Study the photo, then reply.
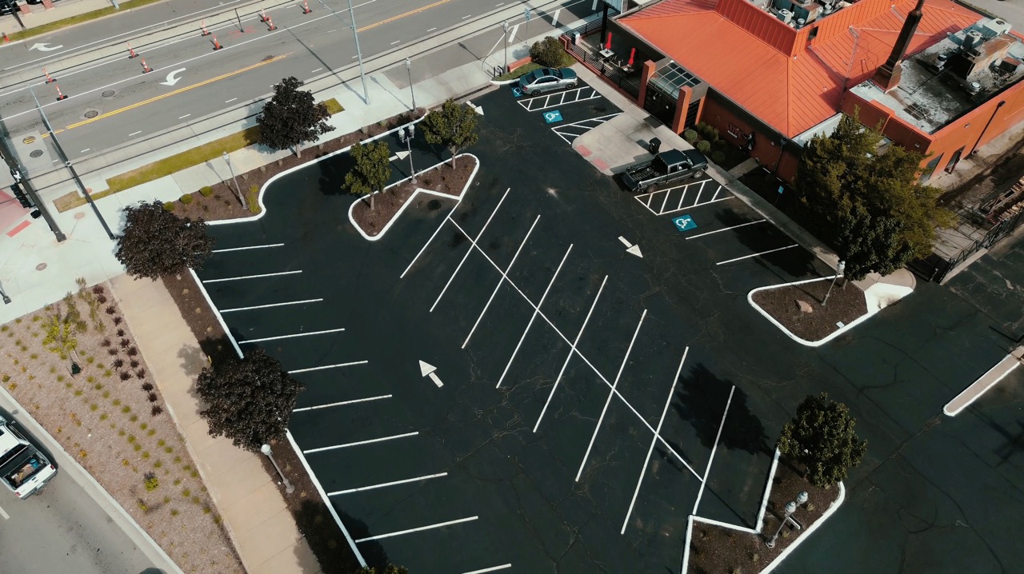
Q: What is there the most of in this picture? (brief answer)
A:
paved ground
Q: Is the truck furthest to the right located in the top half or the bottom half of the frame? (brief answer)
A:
top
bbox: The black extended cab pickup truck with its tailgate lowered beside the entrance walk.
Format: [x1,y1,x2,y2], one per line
[620,149,712,194]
